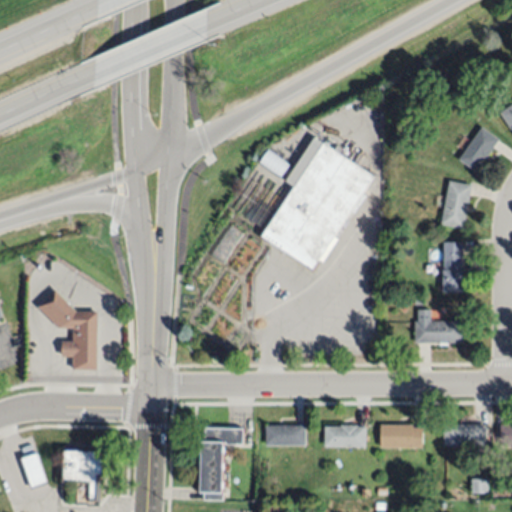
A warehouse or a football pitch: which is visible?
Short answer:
warehouse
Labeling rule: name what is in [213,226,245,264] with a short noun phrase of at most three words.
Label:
greenhouse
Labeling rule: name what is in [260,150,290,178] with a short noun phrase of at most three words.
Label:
shed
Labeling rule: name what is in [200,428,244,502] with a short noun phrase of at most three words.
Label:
house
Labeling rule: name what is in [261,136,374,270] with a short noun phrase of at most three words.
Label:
warehouse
